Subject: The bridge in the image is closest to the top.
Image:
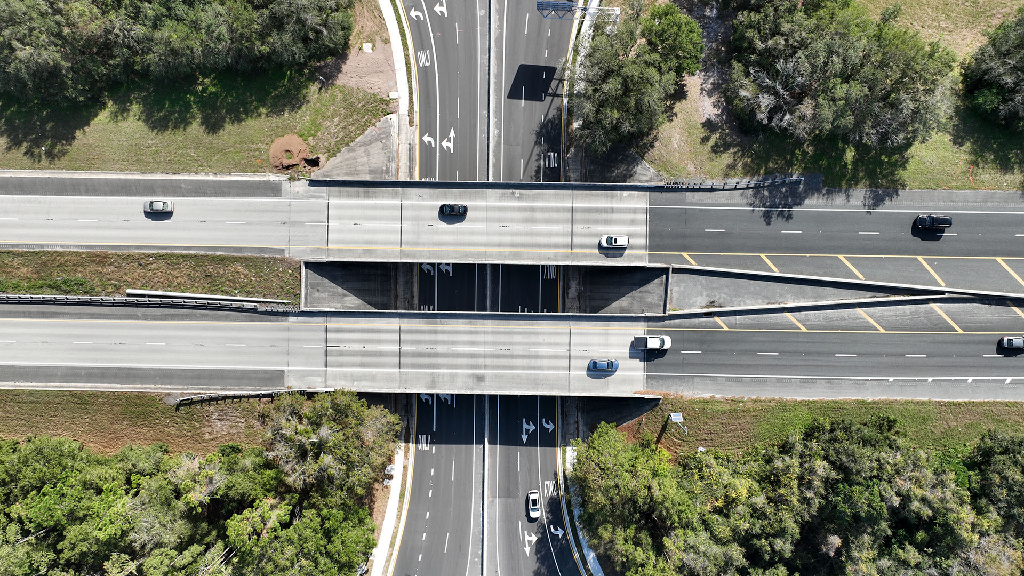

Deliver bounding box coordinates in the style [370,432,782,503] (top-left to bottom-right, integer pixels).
[302,181,666,267]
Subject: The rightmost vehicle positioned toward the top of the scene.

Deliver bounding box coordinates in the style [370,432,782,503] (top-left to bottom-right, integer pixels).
[915,214,953,228]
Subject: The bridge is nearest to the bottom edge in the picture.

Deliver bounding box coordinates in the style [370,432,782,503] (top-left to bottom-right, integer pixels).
[301,311,669,397]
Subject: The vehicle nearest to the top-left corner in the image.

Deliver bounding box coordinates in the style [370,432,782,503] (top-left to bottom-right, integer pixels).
[145,199,176,213]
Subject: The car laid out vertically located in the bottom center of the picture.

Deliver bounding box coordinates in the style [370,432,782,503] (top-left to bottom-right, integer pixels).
[528,489,541,518]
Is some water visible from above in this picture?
No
